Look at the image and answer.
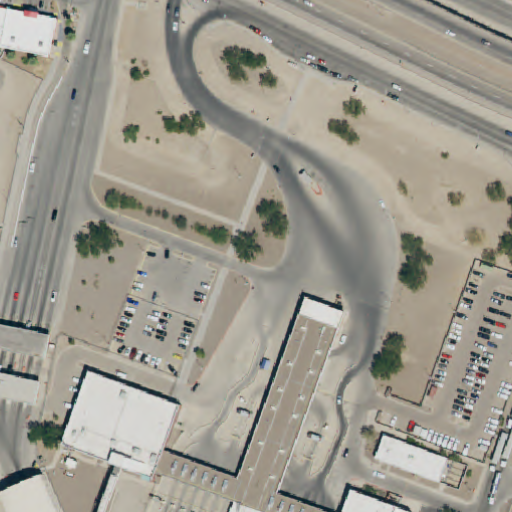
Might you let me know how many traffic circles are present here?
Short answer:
0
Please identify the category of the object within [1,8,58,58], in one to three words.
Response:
building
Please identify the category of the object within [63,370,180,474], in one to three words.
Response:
building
